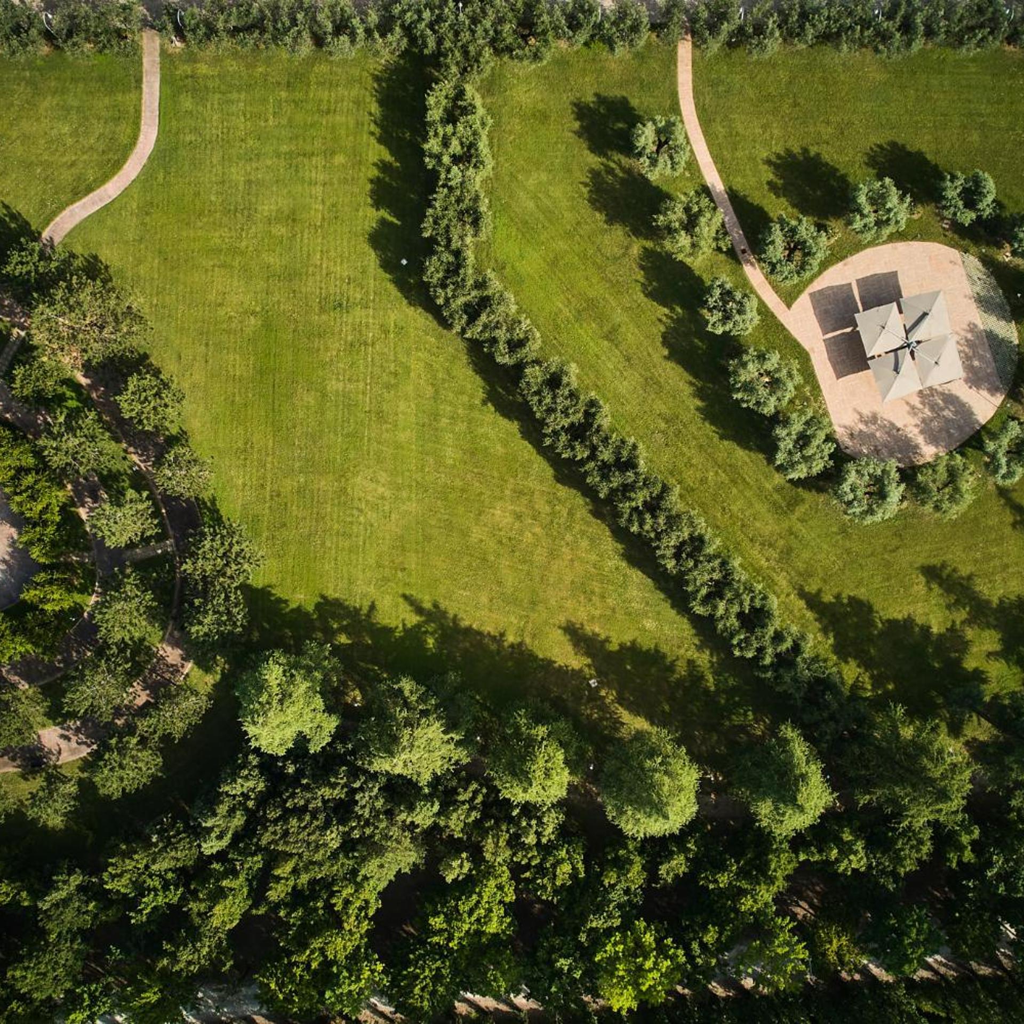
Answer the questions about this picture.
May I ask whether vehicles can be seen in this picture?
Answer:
No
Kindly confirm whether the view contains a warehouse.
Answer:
No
